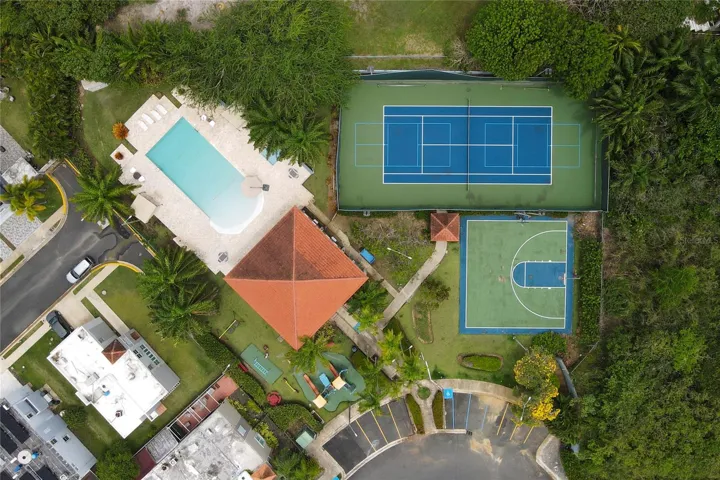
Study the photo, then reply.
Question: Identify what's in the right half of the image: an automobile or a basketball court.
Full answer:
The one visible in the right half of the image is a basketball court.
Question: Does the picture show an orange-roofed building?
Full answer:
Yes, the frame does contain an orange-roofed building.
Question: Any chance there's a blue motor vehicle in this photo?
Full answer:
No, I can see no blue motor vehicle in this picture.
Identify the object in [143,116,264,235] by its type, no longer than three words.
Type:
swimming pool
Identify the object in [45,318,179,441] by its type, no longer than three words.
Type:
house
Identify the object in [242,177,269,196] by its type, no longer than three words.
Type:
umbrella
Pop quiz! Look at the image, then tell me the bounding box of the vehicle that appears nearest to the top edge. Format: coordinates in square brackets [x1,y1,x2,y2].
[67,256,94,283]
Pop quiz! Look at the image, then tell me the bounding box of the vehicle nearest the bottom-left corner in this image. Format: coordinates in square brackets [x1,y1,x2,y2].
[46,311,75,341]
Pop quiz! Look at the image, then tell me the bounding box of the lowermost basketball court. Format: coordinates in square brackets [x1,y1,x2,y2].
[460,216,574,335]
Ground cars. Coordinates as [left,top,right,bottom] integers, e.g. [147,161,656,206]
[46,311,75,341]
[67,256,94,283]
